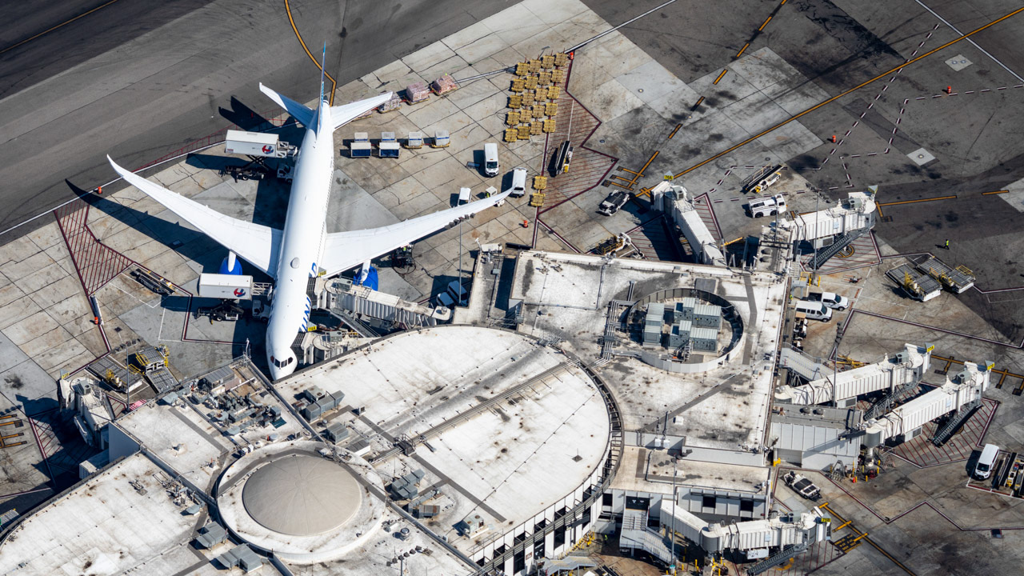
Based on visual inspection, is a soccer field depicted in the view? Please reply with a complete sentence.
No, no soccer field is visible in the view.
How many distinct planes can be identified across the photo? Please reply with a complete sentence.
Only 1 plane is visible.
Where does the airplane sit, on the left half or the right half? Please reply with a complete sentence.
It is on the left.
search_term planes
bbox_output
[107,41,512,380]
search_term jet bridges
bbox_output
[304,266,452,331]
[764,183,885,277]
[291,319,427,366]
[657,502,836,576]
[55,368,115,446]
[645,171,741,267]
[861,359,998,474]
[771,340,939,424]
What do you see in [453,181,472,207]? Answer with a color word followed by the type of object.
white vehicle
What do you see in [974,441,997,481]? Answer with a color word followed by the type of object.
white vehicle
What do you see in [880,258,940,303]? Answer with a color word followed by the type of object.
gray work vehicle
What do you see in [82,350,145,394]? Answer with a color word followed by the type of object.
gray work vehicle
